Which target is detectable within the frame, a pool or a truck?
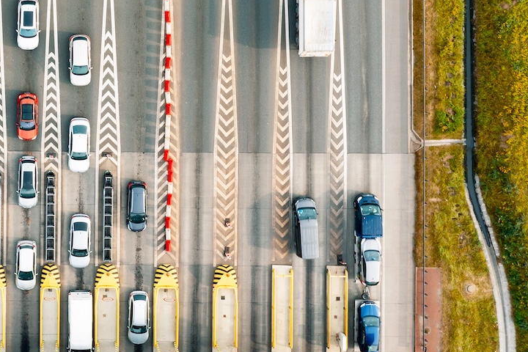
truck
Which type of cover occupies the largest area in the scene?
paved ground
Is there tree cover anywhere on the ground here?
No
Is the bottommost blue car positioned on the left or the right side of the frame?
right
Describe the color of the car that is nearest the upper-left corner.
white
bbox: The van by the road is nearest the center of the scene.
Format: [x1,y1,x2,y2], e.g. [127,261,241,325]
[292,196,323,261]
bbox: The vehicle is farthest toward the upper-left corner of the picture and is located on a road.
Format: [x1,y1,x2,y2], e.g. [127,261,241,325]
[15,0,39,49]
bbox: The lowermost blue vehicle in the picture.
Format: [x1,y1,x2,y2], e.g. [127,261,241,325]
[356,300,385,352]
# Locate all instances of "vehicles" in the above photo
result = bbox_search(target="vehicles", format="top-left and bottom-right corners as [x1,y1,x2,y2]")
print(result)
[354,194,385,290]
[14,240,37,290]
[356,300,385,352]
[15,92,38,140]
[292,196,323,261]
[126,289,149,345]
[66,116,90,172]
[68,34,90,86]
[68,212,92,267]
[15,0,39,49]
[125,180,148,232]
[15,156,39,208]
[290,0,333,57]
[358,242,386,287]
